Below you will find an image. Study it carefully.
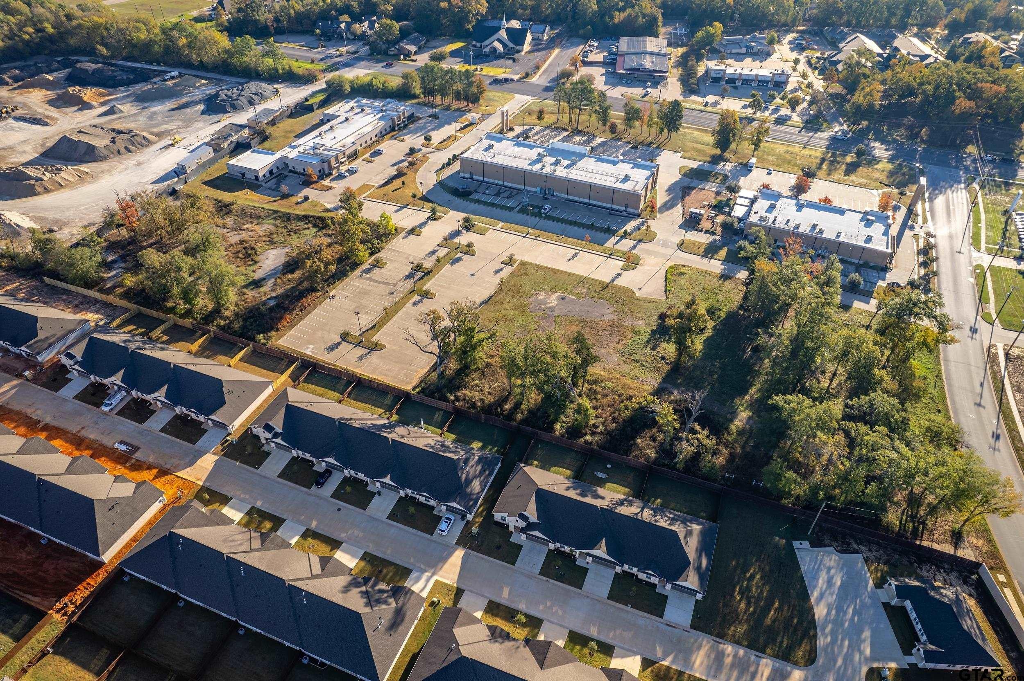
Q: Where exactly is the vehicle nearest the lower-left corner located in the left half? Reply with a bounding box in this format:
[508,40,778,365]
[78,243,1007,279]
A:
[101,388,127,411]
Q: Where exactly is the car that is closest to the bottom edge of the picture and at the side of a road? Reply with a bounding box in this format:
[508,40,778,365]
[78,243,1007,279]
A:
[437,515,457,536]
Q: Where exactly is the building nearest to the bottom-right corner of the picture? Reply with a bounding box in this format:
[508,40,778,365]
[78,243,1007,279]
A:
[879,572,1014,681]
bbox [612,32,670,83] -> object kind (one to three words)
building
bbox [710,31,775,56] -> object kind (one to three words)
building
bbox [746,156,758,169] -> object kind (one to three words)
vehicle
